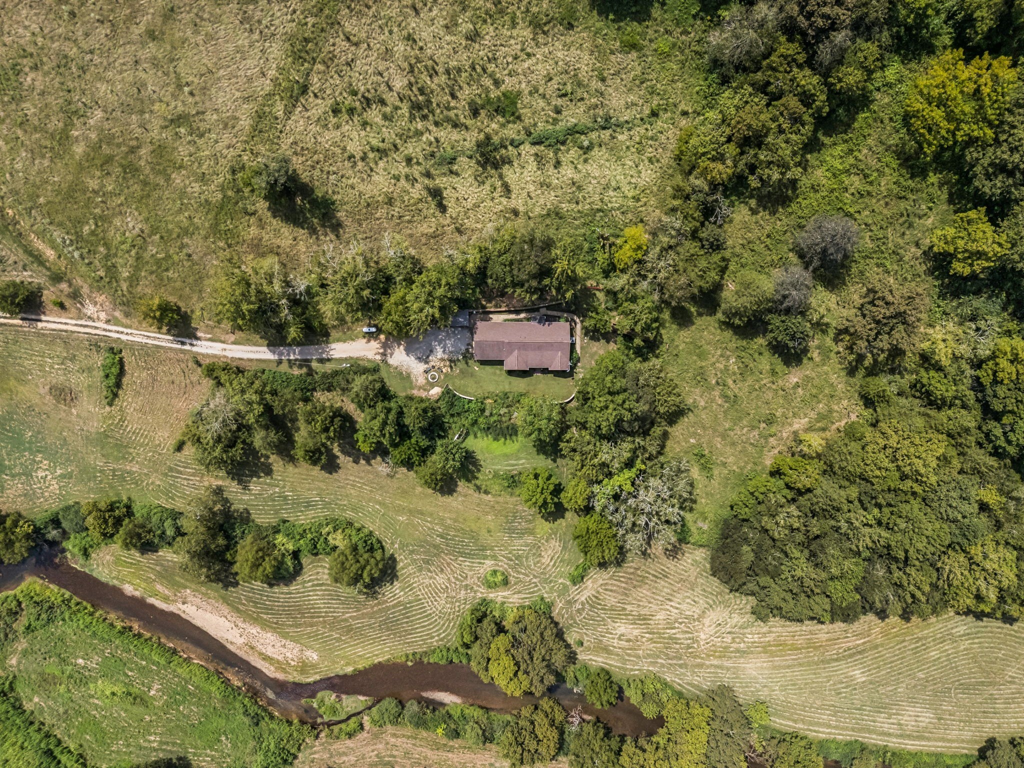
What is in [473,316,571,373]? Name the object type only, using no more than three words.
house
